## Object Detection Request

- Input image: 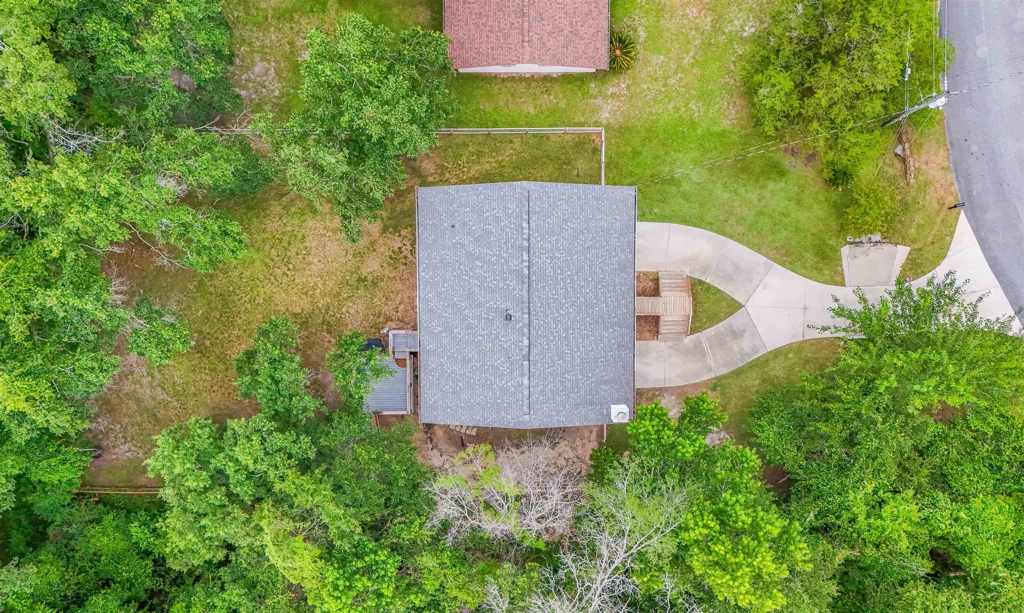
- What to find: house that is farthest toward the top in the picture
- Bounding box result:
[443,0,610,72]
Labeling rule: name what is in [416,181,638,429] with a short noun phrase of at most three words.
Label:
house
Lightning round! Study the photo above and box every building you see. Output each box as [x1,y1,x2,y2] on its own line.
[443,0,610,72]
[416,181,638,429]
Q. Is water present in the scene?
No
